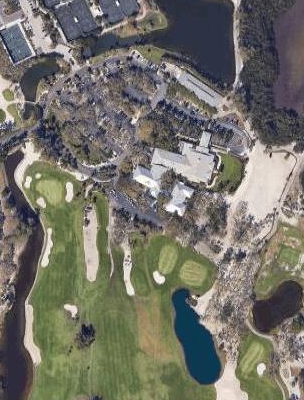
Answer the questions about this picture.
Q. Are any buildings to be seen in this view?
Yes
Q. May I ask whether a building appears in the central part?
Yes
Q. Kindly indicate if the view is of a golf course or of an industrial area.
golf course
